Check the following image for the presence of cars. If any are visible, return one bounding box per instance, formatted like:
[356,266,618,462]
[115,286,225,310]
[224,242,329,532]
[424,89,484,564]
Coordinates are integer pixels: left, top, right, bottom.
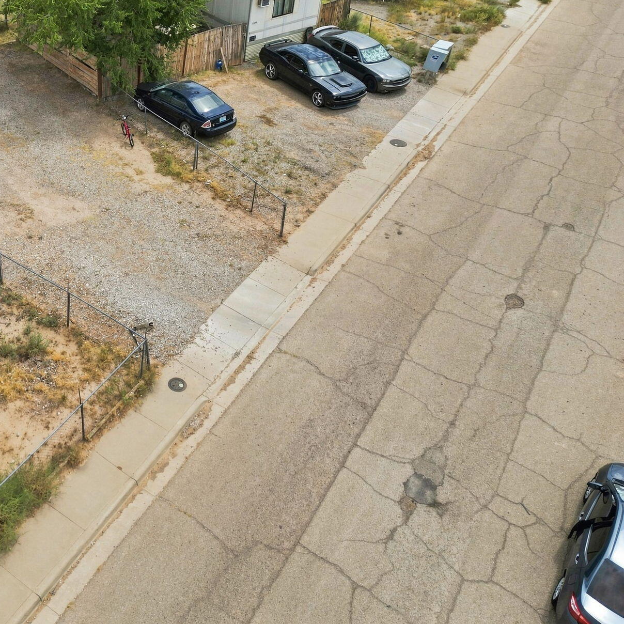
[549,453,624,624]
[131,73,240,141]
[304,23,418,90]
[258,37,372,111]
